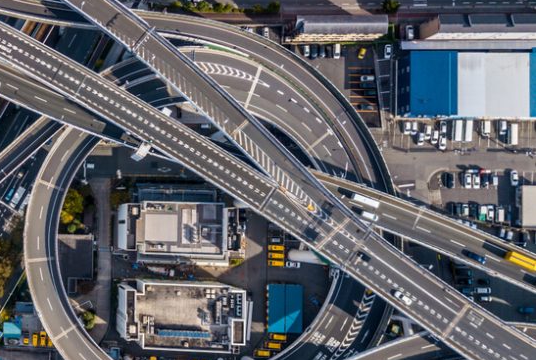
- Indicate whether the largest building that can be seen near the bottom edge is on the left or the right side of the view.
left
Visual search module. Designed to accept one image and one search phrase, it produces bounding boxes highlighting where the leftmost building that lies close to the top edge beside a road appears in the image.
[287,15,390,45]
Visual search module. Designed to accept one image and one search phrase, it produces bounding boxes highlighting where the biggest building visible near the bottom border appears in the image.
[113,278,250,353]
